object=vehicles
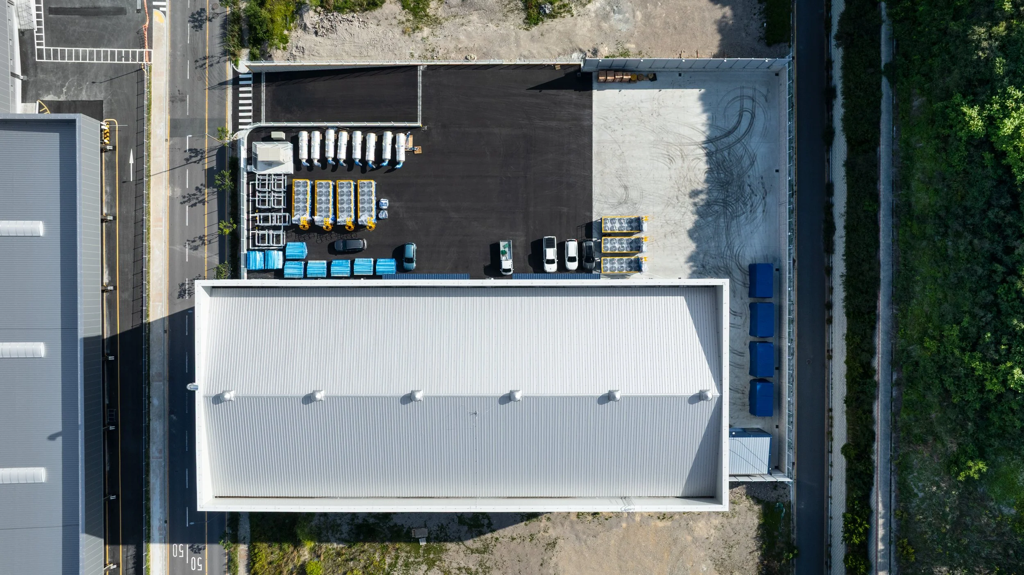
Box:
[335,238,367,254]
[565,239,578,270]
[500,240,514,275]
[402,242,417,271]
[582,239,595,270]
[542,236,557,272]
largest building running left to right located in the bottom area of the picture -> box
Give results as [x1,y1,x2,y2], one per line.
[179,273,729,520]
